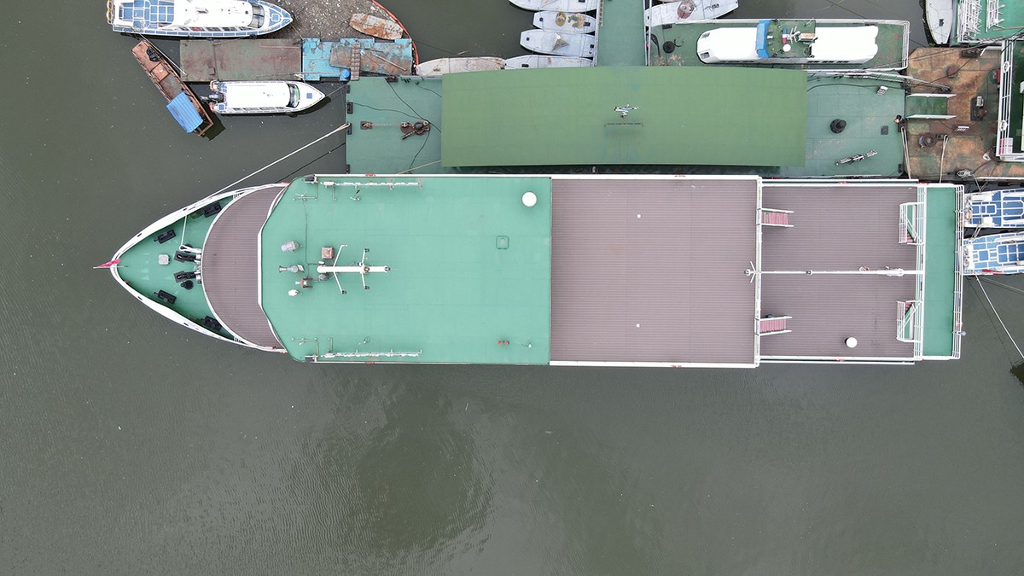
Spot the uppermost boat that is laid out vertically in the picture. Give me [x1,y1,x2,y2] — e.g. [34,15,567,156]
[923,0,945,46]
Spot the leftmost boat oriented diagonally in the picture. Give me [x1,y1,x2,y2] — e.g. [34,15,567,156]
[132,40,214,136]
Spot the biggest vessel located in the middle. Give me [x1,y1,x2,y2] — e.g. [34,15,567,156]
[93,175,966,367]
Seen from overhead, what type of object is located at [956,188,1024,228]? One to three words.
boat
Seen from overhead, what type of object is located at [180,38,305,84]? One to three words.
ship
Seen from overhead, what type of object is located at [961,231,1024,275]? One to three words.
boat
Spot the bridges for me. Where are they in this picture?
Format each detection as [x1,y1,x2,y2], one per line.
[596,0,650,68]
